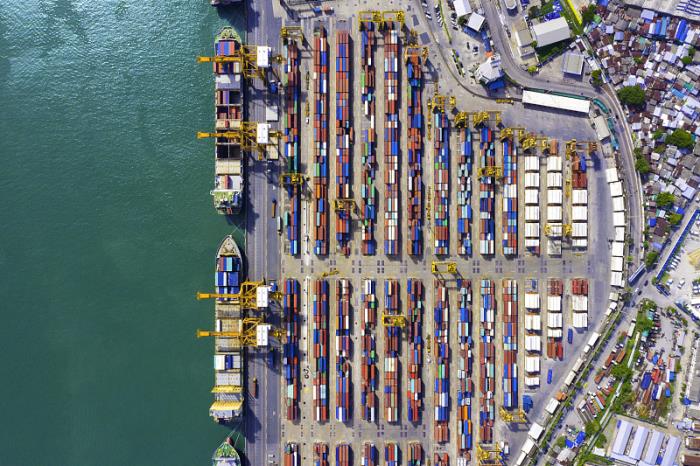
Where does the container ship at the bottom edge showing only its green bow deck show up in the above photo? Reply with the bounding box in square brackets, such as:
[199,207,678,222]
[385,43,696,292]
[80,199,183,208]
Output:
[214,436,242,466]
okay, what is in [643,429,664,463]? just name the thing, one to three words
building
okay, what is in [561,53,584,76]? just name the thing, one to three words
building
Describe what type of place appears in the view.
port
